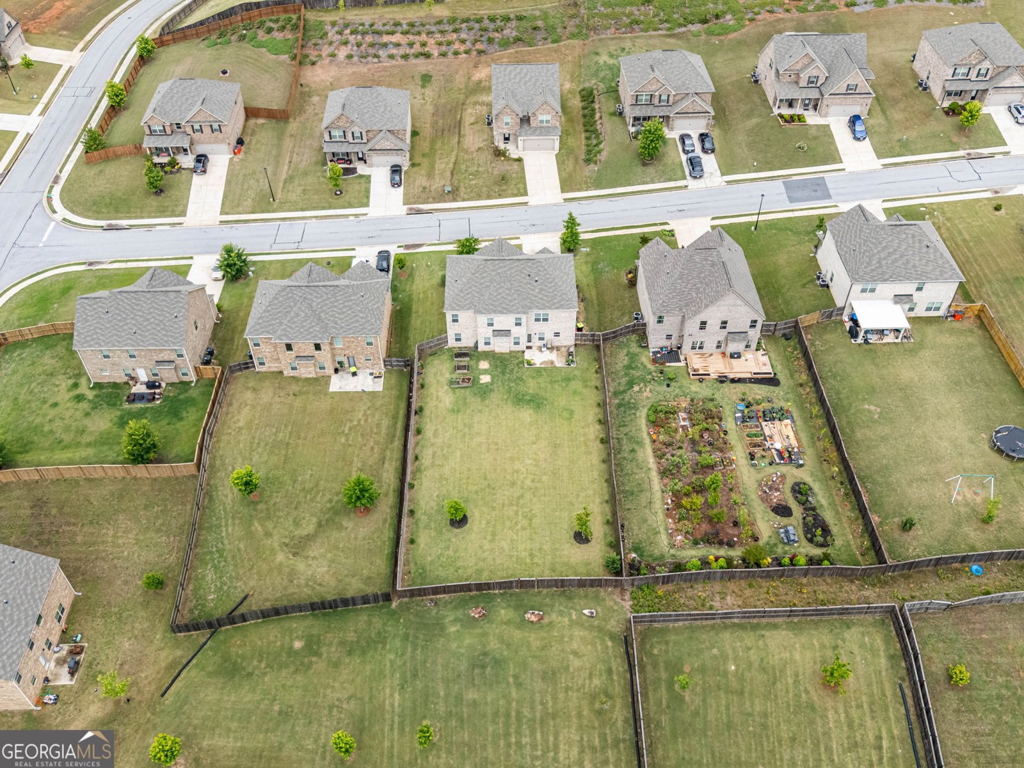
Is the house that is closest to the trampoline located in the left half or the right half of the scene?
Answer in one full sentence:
The house that is closest to the trampoline is on the right side of the image.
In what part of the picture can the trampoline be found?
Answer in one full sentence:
Look in the right portion of the view to spot the trampoline.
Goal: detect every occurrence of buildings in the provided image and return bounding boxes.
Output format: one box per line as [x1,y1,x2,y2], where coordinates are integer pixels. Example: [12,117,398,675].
[491,61,562,153]
[444,237,578,350]
[624,51,716,131]
[923,26,1024,104]
[0,8,26,58]
[244,259,392,376]
[761,33,876,116]
[0,550,82,707]
[634,224,766,350]
[141,80,249,161]
[322,86,414,168]
[812,202,966,316]
[72,265,225,385]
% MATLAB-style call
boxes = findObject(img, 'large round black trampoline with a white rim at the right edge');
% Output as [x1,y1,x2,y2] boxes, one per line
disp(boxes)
[992,428,1024,462]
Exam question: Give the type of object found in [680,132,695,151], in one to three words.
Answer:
car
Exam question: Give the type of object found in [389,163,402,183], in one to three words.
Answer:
vehicle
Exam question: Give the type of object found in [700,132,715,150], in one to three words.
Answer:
car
